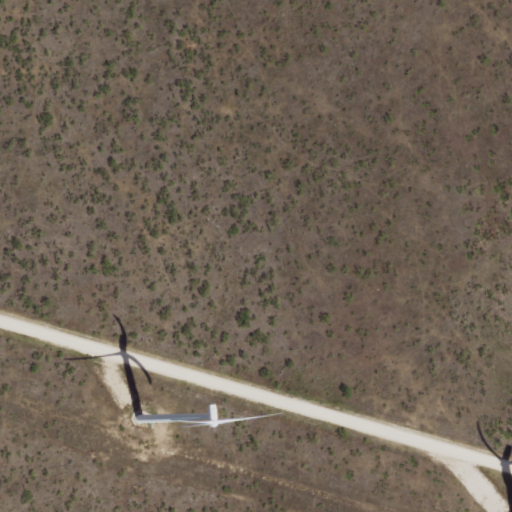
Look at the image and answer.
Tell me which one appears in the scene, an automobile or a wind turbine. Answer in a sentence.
The image shows a wind turbine.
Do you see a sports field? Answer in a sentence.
No, this view has no sports field in it.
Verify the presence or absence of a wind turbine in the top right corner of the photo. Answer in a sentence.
No, I see no wind turbine in the top right corner of the photo.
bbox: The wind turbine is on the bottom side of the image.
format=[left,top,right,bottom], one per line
[131,403,264,428]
